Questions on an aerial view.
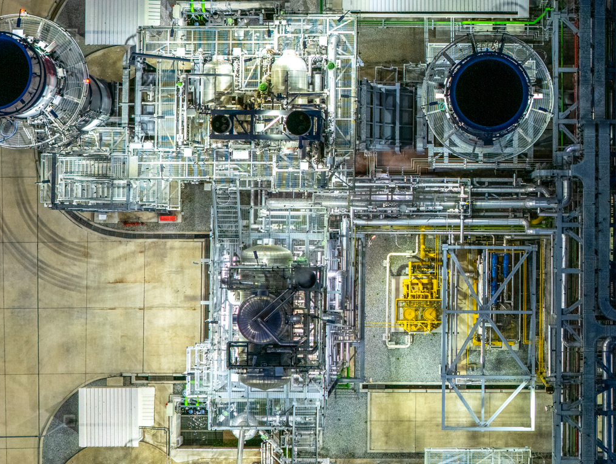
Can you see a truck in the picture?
No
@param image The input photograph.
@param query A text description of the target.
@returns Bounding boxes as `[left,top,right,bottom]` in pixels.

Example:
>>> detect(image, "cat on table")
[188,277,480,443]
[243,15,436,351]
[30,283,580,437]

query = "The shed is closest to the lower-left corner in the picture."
[79,385,159,446]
